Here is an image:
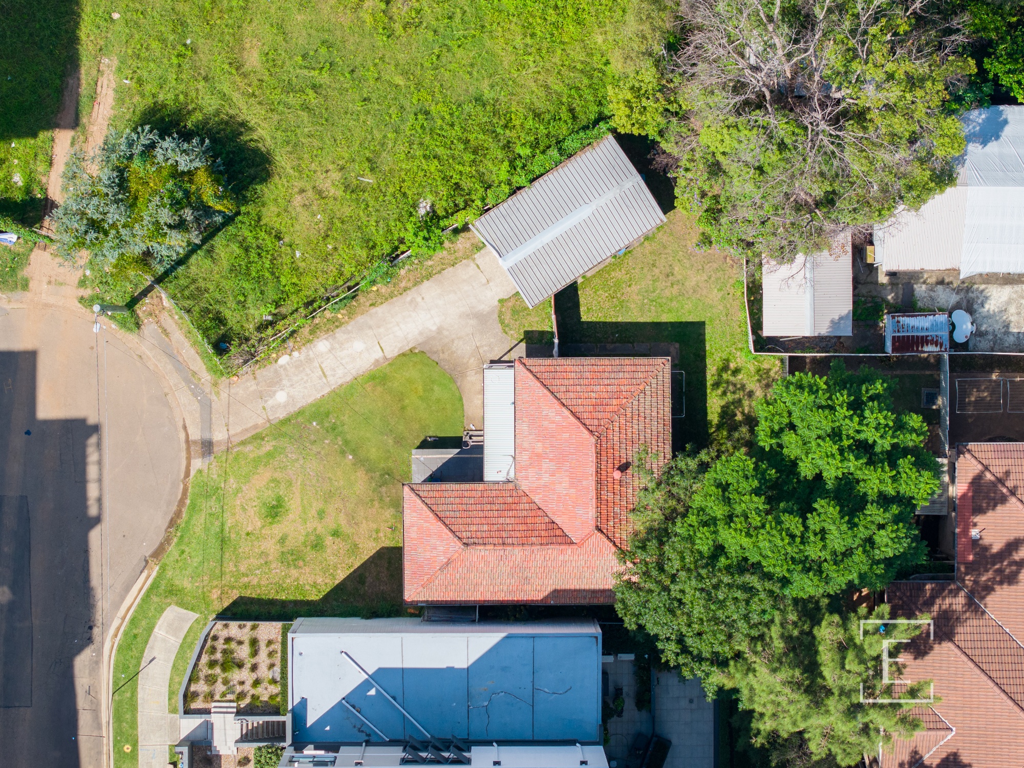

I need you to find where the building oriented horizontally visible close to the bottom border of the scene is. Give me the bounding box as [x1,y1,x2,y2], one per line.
[270,619,606,768]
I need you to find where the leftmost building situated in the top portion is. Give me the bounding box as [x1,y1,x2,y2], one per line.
[469,134,667,309]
